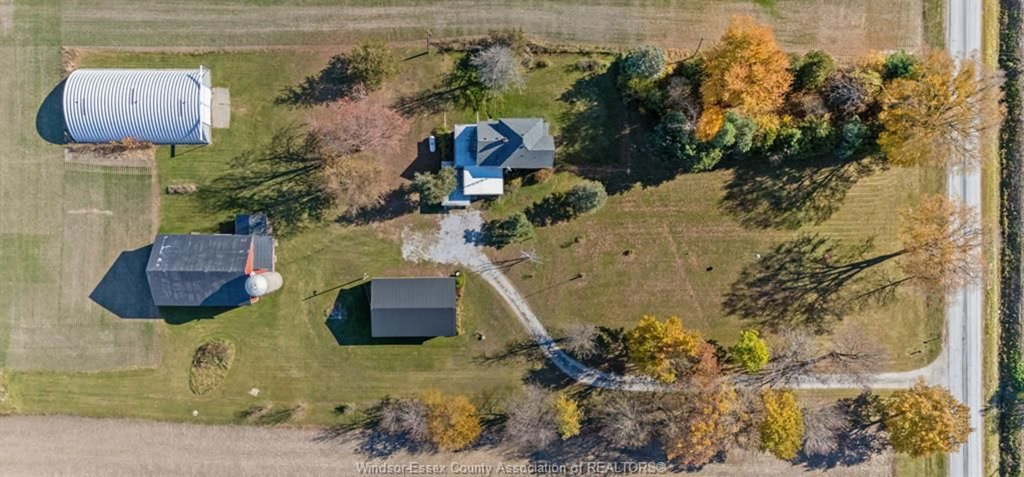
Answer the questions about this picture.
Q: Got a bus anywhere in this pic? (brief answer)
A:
No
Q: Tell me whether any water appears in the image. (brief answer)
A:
No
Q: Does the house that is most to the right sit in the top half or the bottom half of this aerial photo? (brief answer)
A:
top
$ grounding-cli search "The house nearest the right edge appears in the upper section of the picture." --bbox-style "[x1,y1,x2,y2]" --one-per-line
[441,119,555,206]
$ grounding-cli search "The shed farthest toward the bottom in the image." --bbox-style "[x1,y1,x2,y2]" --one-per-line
[369,278,456,338]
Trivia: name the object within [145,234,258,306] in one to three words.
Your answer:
barn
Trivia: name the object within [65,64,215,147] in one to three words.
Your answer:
building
